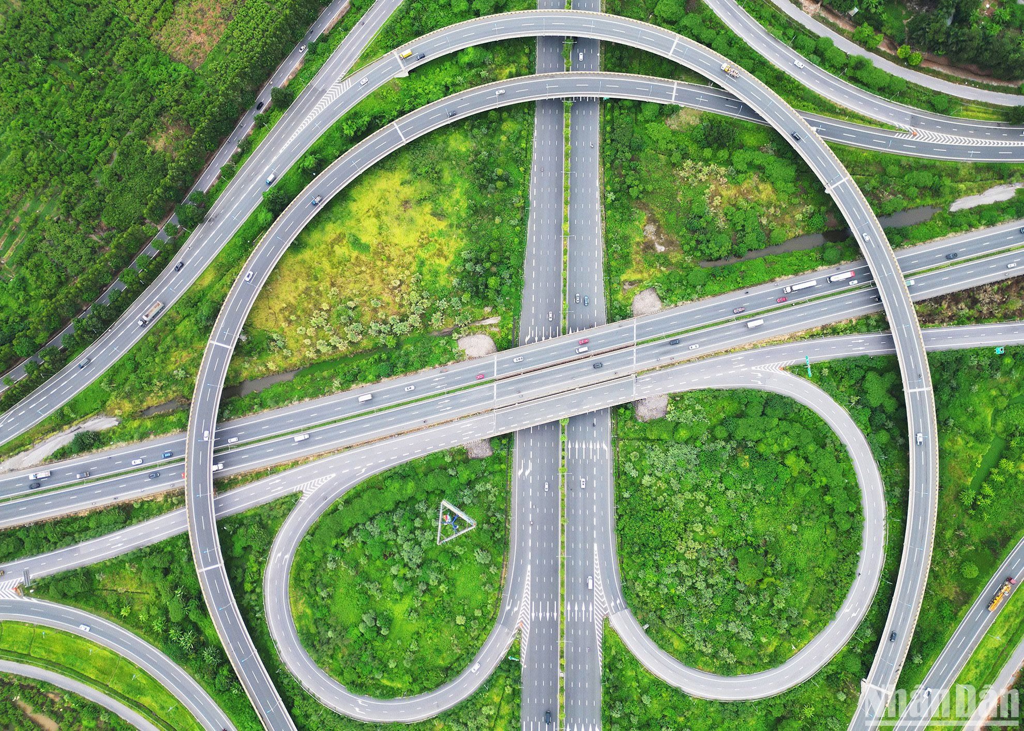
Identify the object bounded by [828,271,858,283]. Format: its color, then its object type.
white vehicle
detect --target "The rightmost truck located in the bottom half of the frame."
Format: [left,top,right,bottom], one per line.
[990,581,1015,610]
